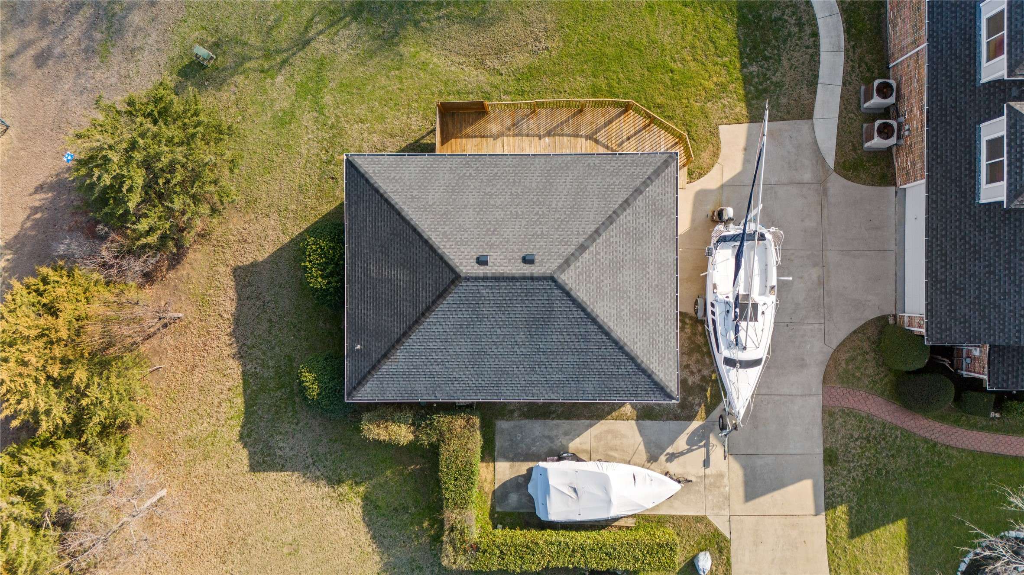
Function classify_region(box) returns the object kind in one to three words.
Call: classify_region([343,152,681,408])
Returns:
building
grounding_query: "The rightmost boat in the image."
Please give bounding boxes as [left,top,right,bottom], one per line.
[704,101,783,427]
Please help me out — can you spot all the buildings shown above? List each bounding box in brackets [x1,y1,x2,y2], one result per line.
[886,0,1024,393]
[343,152,681,408]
